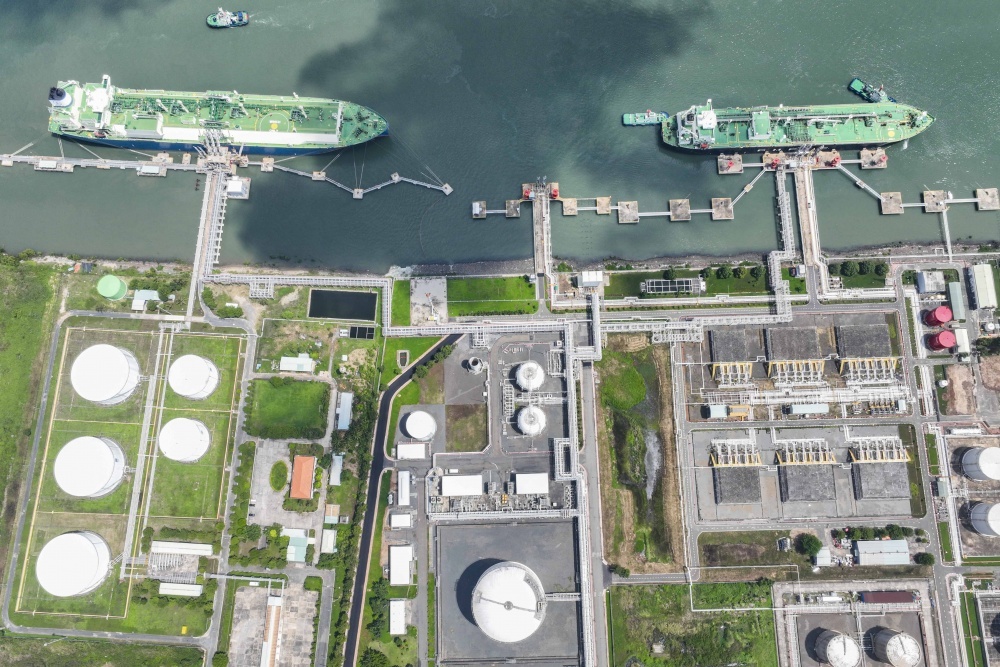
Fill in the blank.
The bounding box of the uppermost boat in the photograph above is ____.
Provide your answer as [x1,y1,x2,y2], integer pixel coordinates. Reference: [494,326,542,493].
[209,11,248,27]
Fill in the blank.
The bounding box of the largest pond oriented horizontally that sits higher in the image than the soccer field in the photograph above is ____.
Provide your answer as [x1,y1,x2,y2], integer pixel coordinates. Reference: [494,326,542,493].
[307,288,378,321]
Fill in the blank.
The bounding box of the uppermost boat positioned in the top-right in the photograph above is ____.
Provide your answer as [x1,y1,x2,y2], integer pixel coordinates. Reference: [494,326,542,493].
[851,78,894,104]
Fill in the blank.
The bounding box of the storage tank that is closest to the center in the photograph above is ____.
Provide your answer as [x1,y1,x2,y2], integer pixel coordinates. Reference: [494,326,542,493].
[516,361,546,394]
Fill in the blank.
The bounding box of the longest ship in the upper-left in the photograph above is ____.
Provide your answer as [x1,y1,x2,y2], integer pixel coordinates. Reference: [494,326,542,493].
[47,74,389,158]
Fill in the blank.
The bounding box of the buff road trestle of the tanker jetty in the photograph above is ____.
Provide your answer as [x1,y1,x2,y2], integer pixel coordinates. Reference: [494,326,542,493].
[792,169,823,267]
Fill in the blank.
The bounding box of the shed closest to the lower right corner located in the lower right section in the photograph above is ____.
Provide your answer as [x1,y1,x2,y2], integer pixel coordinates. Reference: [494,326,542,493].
[860,590,915,604]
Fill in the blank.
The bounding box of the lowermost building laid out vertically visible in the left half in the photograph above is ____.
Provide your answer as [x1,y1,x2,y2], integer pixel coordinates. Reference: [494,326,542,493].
[389,600,407,635]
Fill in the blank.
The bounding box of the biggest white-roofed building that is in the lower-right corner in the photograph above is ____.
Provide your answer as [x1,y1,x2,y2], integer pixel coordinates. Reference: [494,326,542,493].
[852,539,911,564]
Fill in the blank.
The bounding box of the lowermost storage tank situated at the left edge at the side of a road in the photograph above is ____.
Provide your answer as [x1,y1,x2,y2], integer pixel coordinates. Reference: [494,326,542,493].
[34,529,111,599]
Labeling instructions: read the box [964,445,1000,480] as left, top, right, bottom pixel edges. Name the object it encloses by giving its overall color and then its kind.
white storage tank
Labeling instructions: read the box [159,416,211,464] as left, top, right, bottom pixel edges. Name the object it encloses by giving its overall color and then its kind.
white storage tank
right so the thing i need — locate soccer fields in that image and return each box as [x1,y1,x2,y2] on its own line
[246,380,329,436]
